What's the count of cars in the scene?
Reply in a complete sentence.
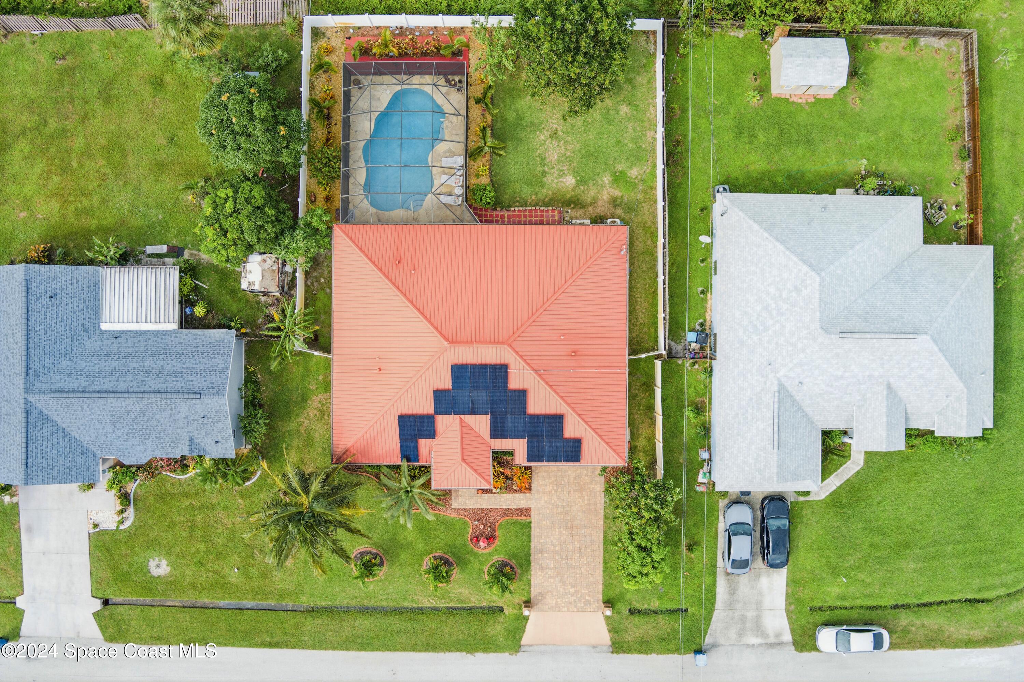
The picture shows 3 cars.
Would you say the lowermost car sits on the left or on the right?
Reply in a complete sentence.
It is on the right.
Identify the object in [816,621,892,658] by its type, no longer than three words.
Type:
car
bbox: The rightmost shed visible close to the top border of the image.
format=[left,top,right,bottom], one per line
[771,33,854,95]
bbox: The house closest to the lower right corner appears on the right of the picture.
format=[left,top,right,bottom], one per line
[706,192,994,491]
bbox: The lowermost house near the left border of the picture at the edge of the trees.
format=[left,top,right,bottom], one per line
[0,262,244,488]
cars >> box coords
[816,621,892,658]
[722,500,758,574]
[759,494,795,569]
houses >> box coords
[330,223,633,491]
[0,262,244,488]
[706,192,994,491]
